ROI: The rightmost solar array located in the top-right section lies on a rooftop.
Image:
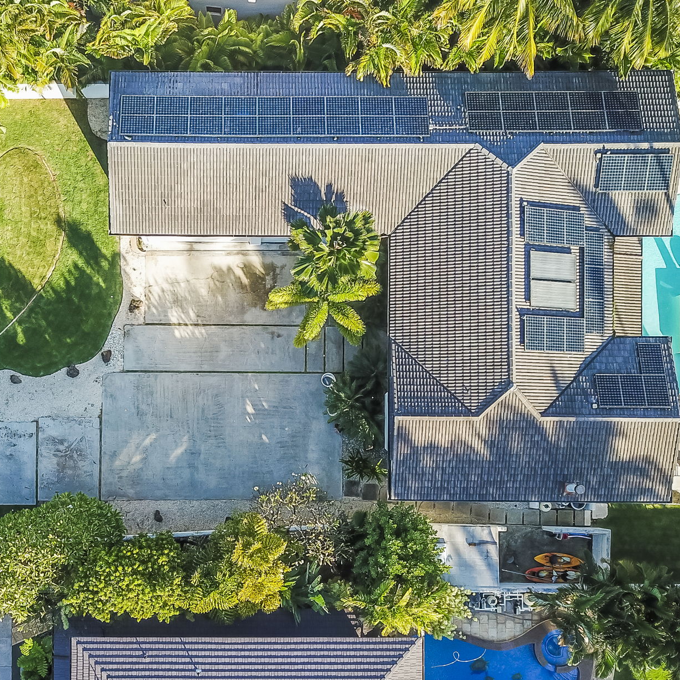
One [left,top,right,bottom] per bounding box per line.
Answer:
[598,155,676,191]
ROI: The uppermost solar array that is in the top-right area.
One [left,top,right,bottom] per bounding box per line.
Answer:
[465,91,644,131]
